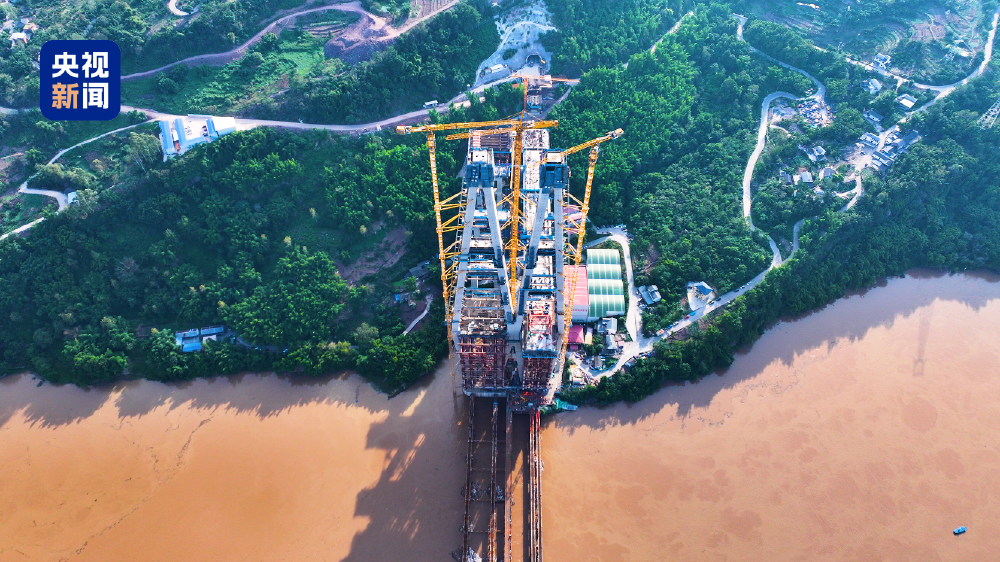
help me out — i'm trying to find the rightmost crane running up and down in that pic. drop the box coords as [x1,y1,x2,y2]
[524,127,627,392]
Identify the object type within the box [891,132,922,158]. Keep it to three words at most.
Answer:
building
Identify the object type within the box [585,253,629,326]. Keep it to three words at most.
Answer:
building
